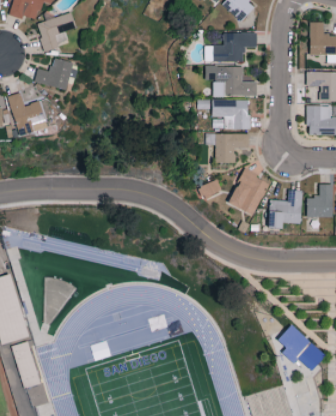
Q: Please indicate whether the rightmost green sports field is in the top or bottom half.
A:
bottom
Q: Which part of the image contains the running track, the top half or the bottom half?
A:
bottom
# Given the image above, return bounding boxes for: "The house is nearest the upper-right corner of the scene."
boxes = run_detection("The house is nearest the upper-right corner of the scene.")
[310,22,336,64]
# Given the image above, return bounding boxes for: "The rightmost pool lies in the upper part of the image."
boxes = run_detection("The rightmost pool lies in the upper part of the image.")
[187,37,204,64]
